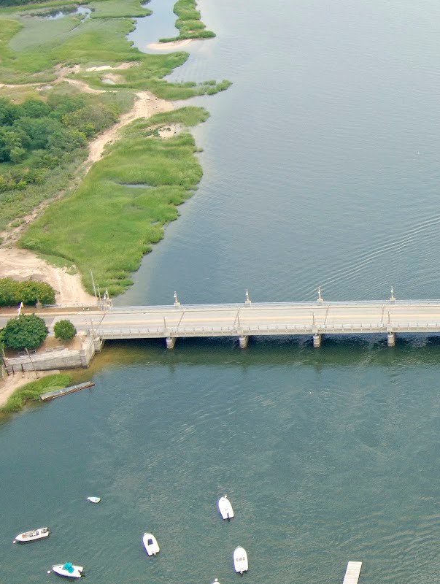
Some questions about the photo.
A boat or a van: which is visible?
boat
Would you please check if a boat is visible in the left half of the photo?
Yes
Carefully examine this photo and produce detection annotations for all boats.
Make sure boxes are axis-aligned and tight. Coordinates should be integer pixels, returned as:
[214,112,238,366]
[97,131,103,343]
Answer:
[219,494,234,522]
[52,561,87,579]
[16,528,52,543]
[142,532,161,560]
[233,543,248,576]
[89,497,101,504]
